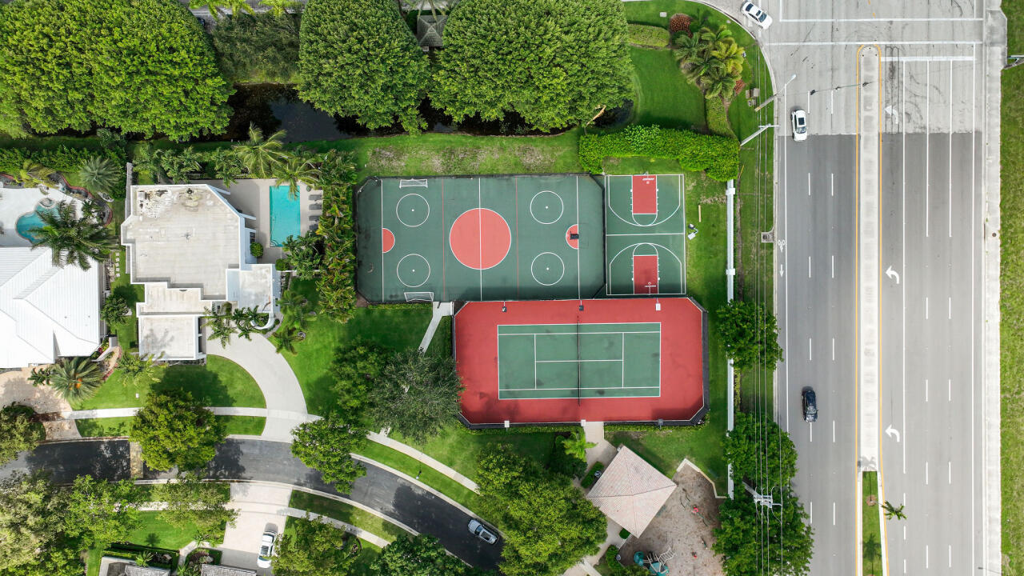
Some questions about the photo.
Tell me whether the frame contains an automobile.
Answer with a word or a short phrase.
Yes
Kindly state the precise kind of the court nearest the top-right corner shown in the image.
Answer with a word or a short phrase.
basketball court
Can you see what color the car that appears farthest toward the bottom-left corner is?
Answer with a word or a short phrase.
white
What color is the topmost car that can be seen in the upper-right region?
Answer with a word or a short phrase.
white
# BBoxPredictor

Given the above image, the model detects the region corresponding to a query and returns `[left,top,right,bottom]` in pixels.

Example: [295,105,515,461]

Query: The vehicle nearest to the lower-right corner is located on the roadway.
[802,390,820,422]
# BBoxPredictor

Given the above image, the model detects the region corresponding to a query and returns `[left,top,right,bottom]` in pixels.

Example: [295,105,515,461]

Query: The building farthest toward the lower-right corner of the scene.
[589,446,677,538]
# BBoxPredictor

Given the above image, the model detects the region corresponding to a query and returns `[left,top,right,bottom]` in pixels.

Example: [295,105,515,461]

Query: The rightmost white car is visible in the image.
[790,109,808,141]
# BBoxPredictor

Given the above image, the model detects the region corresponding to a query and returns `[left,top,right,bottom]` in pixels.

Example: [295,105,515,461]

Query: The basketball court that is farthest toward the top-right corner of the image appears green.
[605,174,687,297]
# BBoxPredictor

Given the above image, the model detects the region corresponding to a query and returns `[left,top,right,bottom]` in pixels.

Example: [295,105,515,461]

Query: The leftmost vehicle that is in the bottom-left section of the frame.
[256,532,276,566]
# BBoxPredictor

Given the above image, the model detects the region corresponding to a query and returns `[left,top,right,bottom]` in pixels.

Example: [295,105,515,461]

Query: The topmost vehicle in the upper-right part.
[742,0,773,26]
